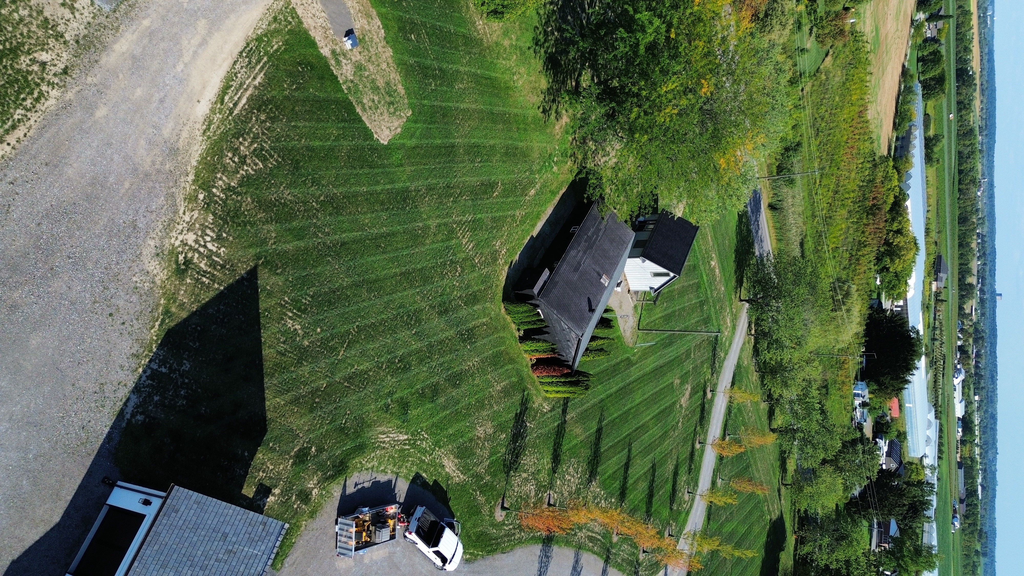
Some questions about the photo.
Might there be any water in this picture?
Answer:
No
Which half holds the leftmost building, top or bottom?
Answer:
bottom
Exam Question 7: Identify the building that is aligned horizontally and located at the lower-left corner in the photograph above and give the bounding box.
[54,480,278,576]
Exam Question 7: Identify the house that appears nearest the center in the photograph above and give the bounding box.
[506,197,636,373]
